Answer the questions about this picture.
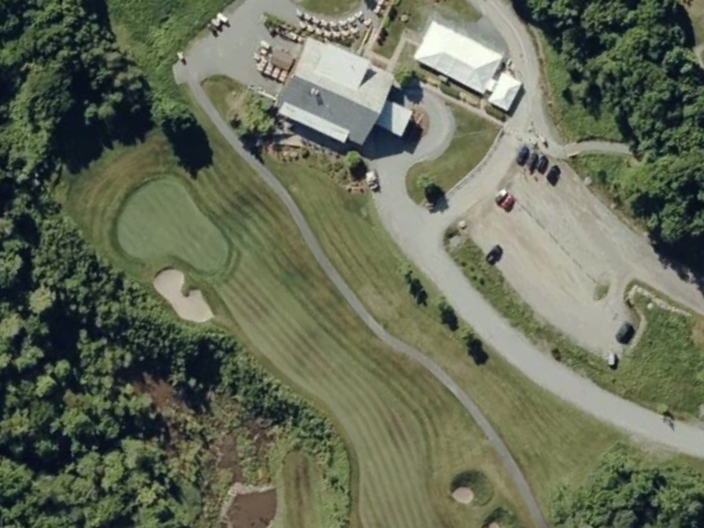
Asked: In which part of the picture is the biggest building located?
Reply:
top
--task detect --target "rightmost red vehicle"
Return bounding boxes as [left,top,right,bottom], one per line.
[501,194,515,210]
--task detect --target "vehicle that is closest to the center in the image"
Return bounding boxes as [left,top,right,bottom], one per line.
[366,169,379,191]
